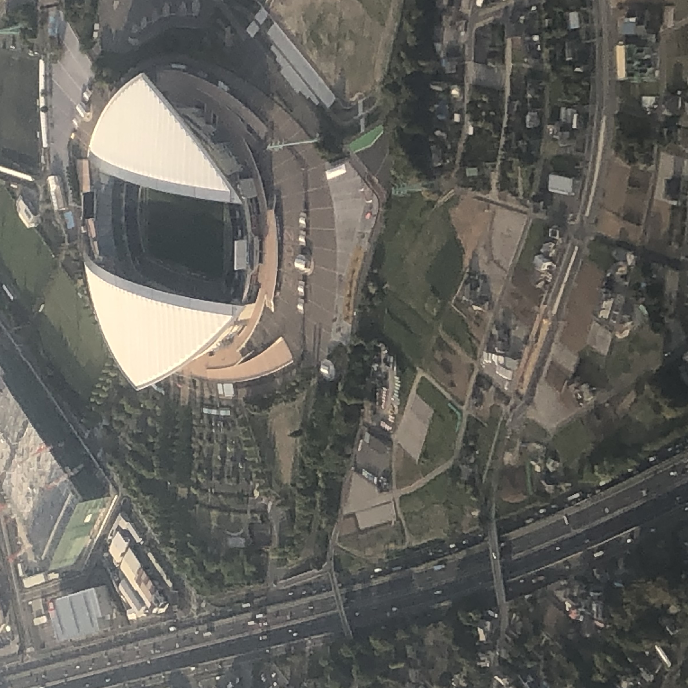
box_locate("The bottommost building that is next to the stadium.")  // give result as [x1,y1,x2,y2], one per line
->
[0,377,133,585]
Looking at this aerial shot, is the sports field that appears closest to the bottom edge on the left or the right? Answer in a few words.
left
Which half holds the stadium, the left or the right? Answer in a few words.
left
